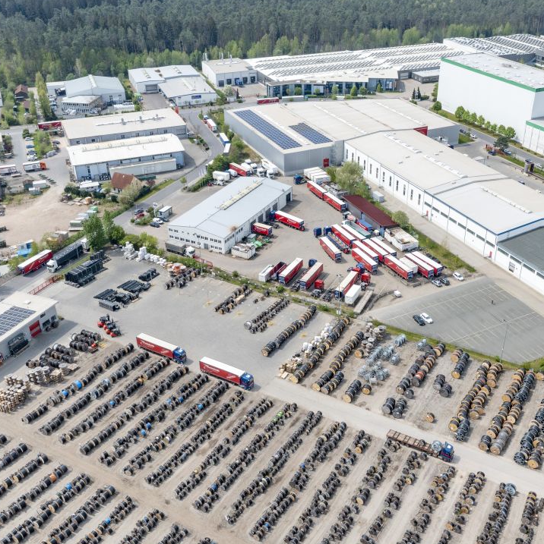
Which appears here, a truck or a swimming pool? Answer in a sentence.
The image shows a truck.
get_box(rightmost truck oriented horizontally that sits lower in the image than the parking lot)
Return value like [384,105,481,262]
[381,426,448,455]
